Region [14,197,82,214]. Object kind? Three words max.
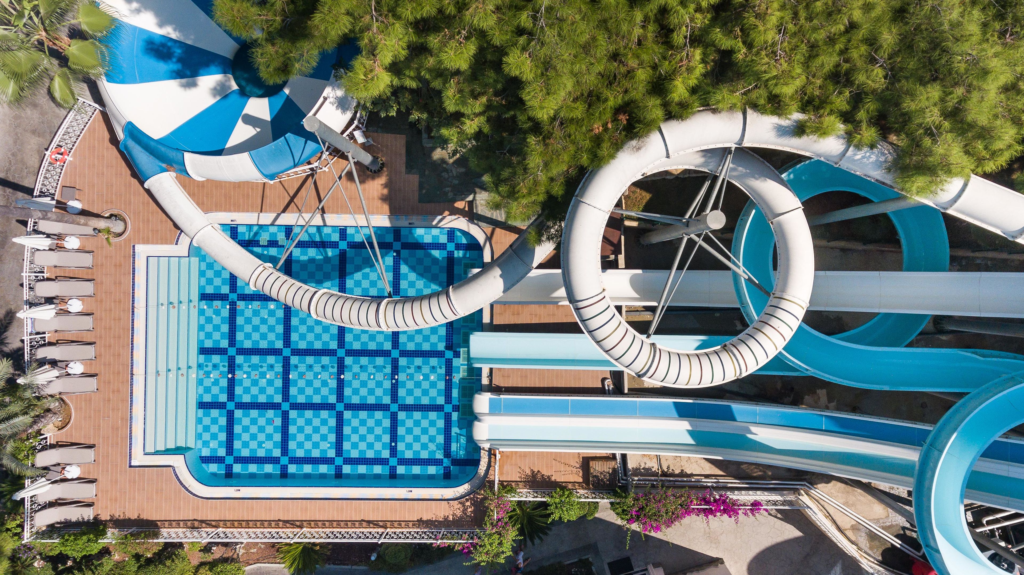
umbrella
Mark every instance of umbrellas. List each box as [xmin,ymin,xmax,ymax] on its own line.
[14,299,83,317]
[10,234,80,249]
[15,363,83,383]
[10,466,80,500]
[14,197,82,214]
